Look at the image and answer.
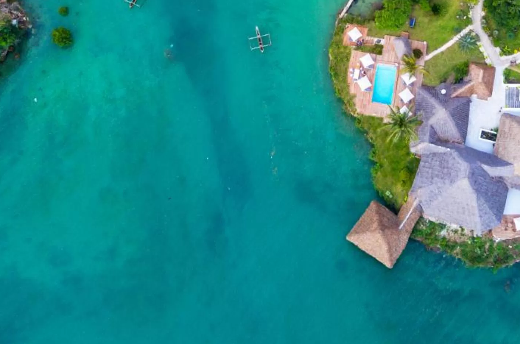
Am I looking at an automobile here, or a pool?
pool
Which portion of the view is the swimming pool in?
top right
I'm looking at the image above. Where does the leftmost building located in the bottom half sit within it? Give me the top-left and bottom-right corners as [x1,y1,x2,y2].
[345,199,415,270]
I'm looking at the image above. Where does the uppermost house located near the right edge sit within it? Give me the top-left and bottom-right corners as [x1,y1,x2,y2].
[453,61,496,101]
